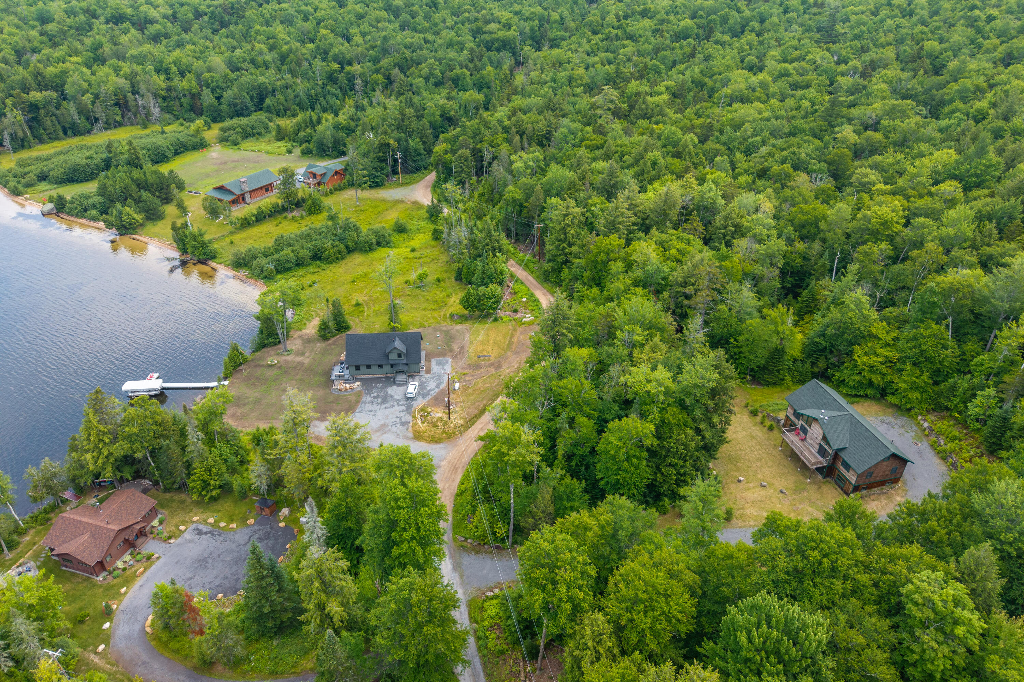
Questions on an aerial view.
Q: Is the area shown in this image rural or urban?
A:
rural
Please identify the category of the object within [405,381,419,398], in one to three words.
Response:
car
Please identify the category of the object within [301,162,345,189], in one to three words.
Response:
house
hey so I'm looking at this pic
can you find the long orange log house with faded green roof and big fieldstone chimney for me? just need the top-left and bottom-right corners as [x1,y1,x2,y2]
[205,168,281,209]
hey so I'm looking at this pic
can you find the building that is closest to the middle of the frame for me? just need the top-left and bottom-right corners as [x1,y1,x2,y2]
[330,332,423,384]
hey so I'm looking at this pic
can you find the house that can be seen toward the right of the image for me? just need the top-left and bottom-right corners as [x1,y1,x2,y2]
[778,379,915,492]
